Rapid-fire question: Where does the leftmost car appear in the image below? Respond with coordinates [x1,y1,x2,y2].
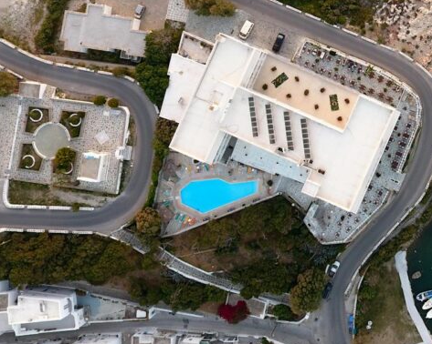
[135,2,148,20]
